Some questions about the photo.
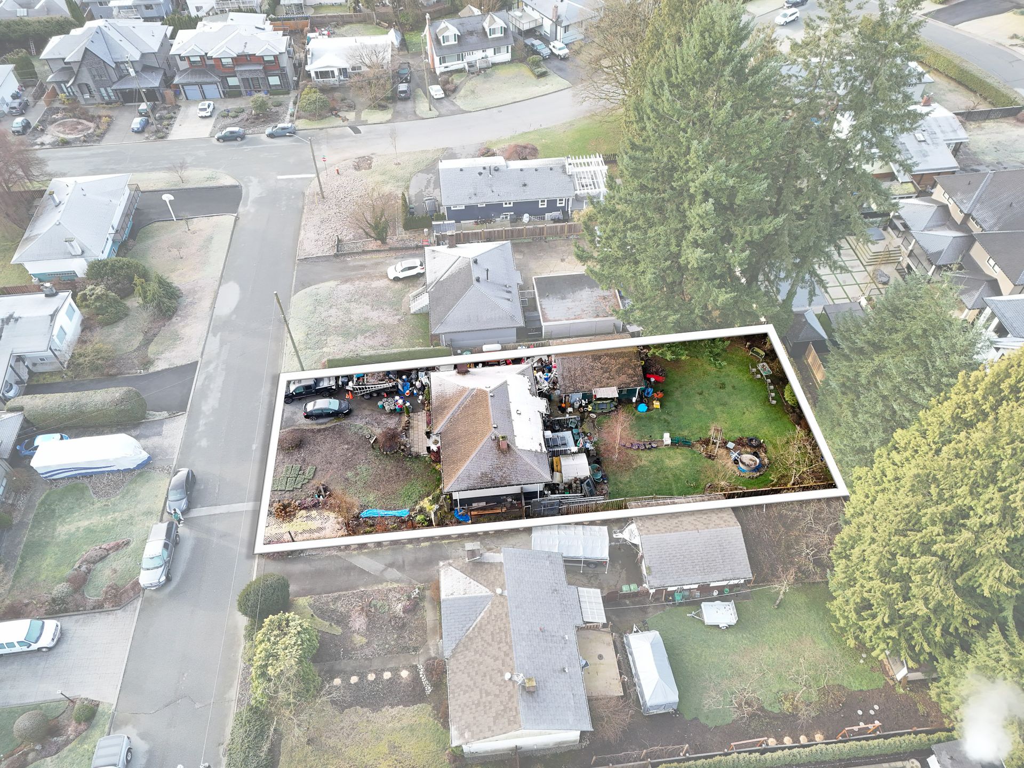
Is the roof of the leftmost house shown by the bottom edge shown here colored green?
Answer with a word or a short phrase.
No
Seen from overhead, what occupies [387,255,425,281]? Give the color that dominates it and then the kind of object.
white car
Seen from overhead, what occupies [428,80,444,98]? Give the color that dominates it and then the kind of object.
white car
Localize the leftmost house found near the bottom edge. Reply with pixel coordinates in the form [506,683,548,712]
[439,546,607,751]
